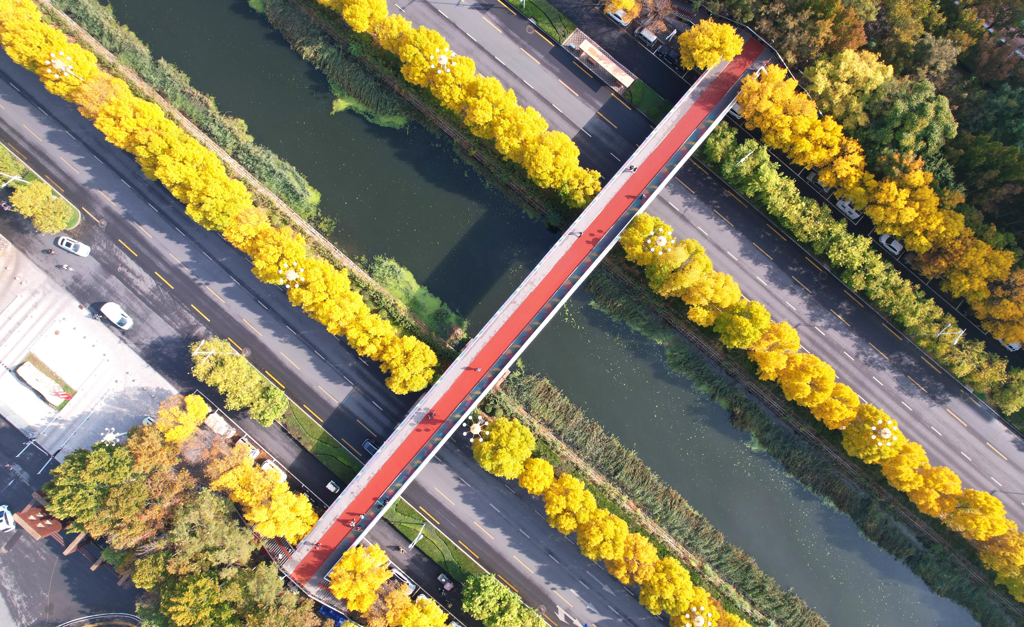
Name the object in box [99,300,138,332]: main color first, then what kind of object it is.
white car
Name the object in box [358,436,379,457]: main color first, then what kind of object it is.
black car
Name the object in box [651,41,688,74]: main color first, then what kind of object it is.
black vehicle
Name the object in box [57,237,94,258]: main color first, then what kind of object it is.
white car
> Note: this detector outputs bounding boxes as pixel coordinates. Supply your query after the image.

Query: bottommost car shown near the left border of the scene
[0,498,22,537]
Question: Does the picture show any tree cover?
Yes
